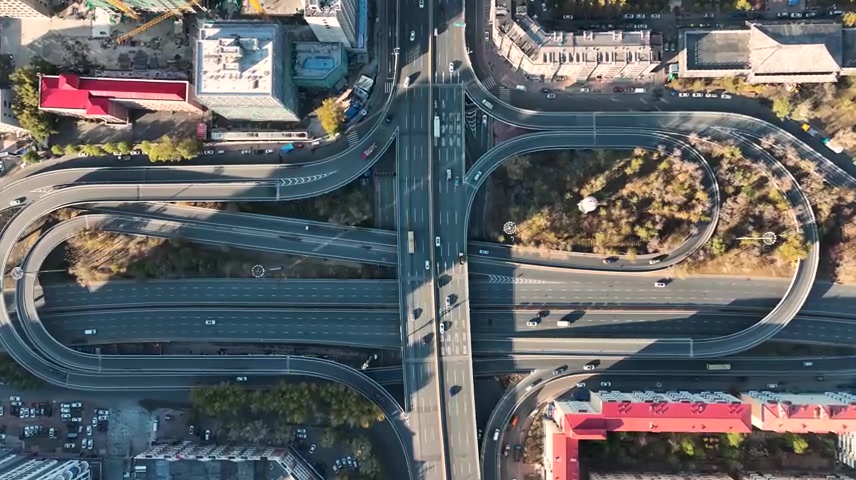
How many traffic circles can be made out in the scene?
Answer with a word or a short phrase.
zero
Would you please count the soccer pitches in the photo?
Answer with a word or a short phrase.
none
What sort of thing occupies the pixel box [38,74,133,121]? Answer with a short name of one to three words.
building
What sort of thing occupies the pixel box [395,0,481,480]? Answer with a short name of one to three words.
overpass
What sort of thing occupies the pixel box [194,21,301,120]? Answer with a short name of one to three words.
building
